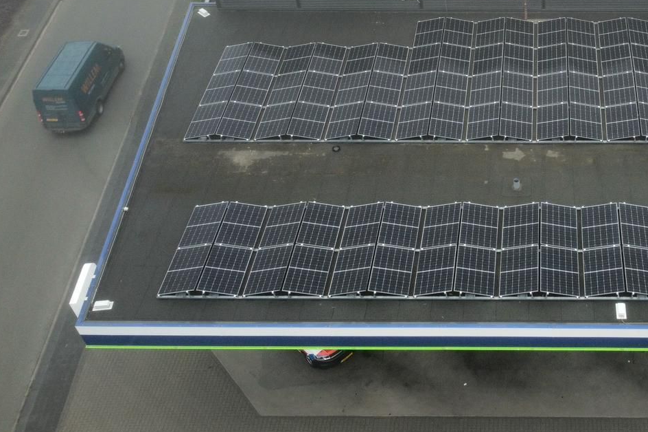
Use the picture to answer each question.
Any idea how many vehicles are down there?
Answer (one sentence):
Altogether the scene contains 2 vehicles.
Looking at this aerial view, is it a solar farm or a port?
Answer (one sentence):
This looks like a solar farm.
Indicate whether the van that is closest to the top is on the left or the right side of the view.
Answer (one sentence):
The van that is closest to the top is on the left side of the image.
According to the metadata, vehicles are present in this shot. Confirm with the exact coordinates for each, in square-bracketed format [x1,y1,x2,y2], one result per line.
[293,349,356,372]
[31,38,126,132]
